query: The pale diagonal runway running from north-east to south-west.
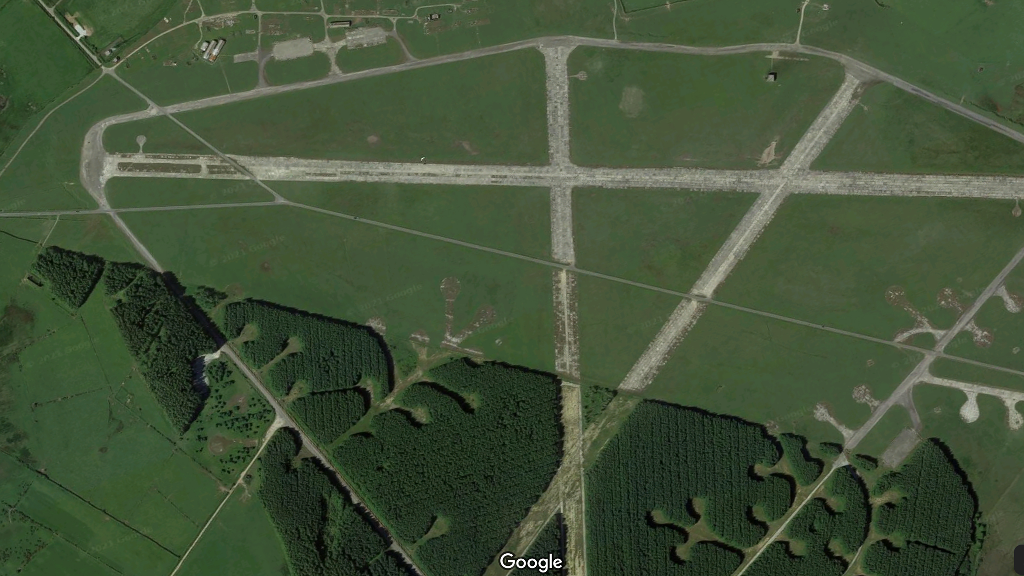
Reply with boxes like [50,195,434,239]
[618,55,885,391]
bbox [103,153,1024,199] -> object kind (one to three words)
runway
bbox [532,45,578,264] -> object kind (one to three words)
runway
